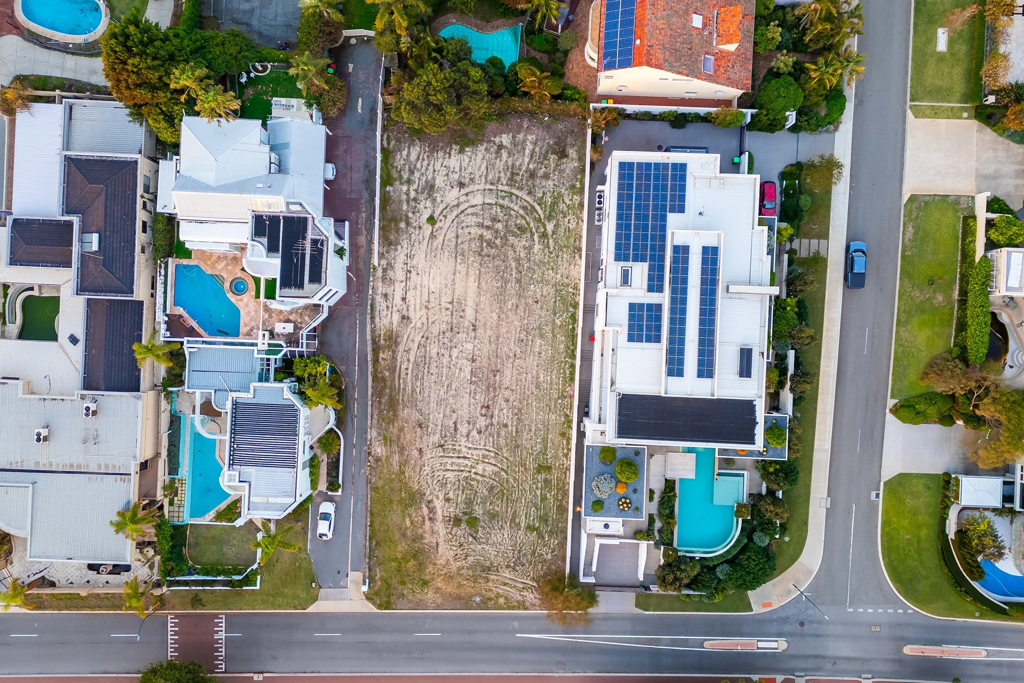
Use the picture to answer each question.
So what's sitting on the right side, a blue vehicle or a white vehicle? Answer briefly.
blue vehicle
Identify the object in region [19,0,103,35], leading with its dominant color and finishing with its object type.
blue swimming pool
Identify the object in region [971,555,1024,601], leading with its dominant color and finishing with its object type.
blue swimming pool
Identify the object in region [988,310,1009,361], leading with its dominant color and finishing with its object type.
black swimming pool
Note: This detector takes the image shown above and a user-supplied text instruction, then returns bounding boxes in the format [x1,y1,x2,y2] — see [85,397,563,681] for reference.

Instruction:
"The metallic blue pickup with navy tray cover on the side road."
[843,242,867,288]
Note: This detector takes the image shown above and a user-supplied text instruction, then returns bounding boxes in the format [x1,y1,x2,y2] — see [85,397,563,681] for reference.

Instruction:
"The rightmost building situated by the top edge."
[580,0,755,99]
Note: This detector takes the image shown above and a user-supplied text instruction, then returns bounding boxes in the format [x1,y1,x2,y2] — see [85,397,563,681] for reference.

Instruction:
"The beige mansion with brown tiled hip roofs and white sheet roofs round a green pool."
[0,99,163,396]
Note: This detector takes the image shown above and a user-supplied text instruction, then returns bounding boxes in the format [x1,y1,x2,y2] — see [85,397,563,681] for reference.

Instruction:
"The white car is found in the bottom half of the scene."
[316,501,337,539]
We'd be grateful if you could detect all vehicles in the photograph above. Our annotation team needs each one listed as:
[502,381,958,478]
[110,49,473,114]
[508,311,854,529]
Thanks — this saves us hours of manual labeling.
[843,242,867,288]
[316,501,337,539]
[757,182,777,217]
